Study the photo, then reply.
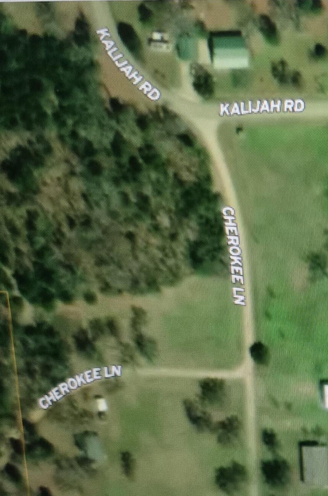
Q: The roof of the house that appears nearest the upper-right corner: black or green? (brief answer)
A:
green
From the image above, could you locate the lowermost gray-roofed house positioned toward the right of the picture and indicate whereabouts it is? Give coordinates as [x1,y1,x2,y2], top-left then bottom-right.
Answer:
[301,446,328,487]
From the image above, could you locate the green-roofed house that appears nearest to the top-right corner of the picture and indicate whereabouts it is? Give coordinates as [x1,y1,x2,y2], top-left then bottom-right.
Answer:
[210,34,249,68]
